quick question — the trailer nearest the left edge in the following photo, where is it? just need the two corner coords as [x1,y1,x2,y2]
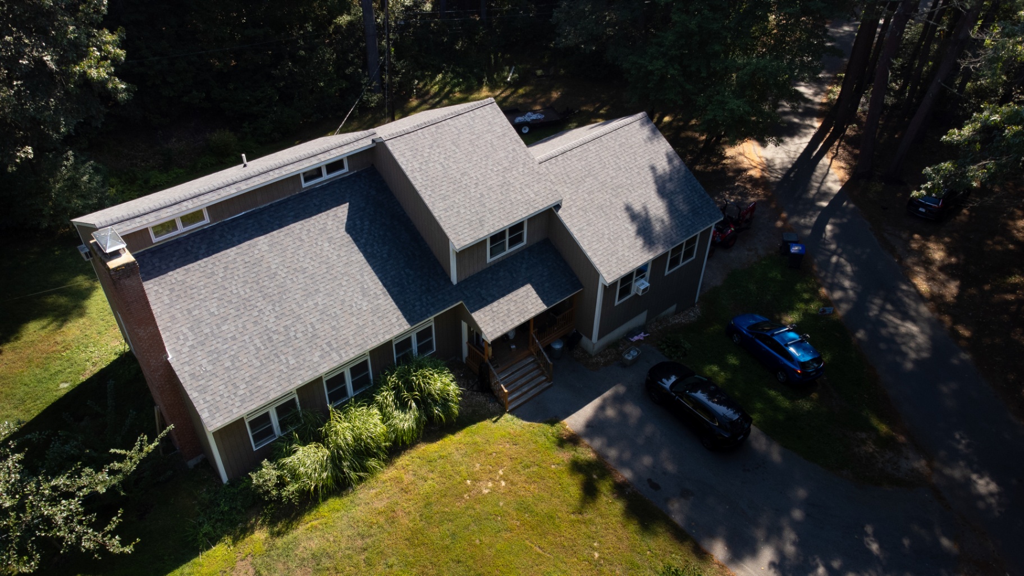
[502,103,580,137]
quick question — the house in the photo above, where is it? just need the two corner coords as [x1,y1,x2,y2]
[71,97,723,491]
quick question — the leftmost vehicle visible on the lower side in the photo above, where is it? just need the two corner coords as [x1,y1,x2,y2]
[640,360,760,452]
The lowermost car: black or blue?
black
